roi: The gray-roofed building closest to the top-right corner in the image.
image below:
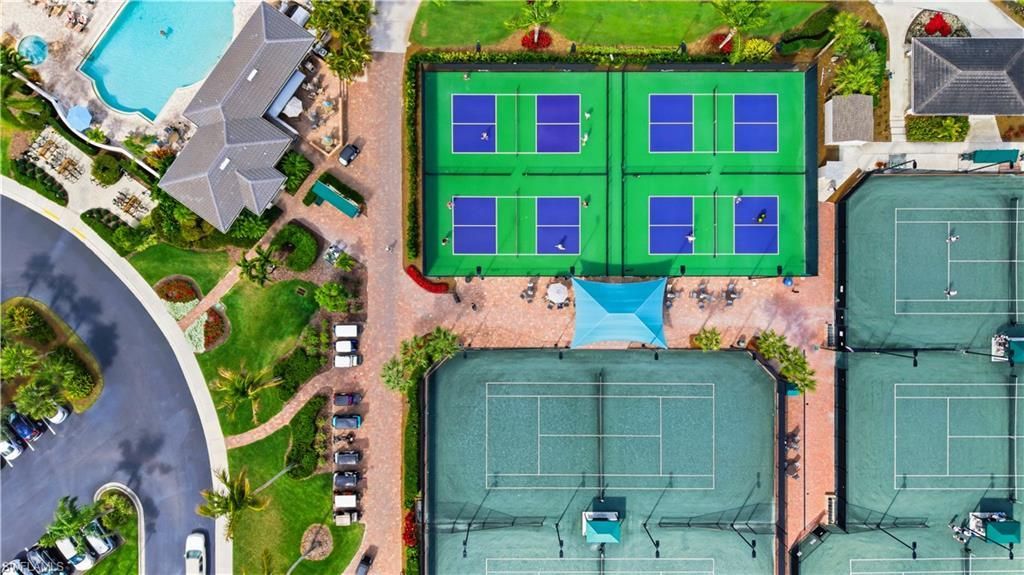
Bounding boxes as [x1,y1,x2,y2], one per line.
[895,37,1024,117]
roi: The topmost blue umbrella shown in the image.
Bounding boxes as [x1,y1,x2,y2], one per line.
[68,106,97,130]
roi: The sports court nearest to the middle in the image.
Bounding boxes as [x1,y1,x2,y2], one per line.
[425,174,615,275]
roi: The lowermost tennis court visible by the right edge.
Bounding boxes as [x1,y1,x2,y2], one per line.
[792,525,1024,575]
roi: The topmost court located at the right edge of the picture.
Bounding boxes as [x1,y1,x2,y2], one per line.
[838,175,1024,349]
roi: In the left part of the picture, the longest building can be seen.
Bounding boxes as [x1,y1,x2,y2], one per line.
[158,1,315,234]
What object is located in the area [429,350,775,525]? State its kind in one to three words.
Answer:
tennis court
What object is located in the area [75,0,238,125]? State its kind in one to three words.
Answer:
swimming pool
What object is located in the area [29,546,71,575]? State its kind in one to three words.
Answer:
car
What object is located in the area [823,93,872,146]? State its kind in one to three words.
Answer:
shed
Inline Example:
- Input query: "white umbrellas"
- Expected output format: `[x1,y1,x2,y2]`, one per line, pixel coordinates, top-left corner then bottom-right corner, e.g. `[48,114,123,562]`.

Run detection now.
[547,282,569,304]
[284,97,304,118]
